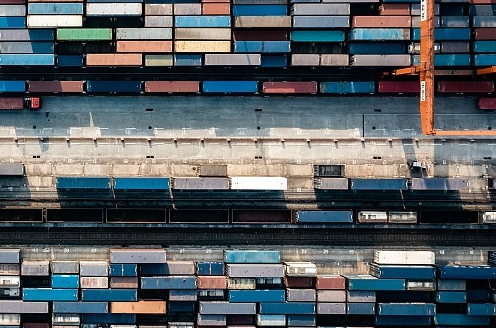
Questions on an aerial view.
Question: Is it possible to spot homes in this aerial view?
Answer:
No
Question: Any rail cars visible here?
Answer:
Yes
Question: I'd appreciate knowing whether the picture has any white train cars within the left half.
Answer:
No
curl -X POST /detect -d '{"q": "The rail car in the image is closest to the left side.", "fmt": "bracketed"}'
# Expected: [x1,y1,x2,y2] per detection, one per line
[0,205,45,221]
